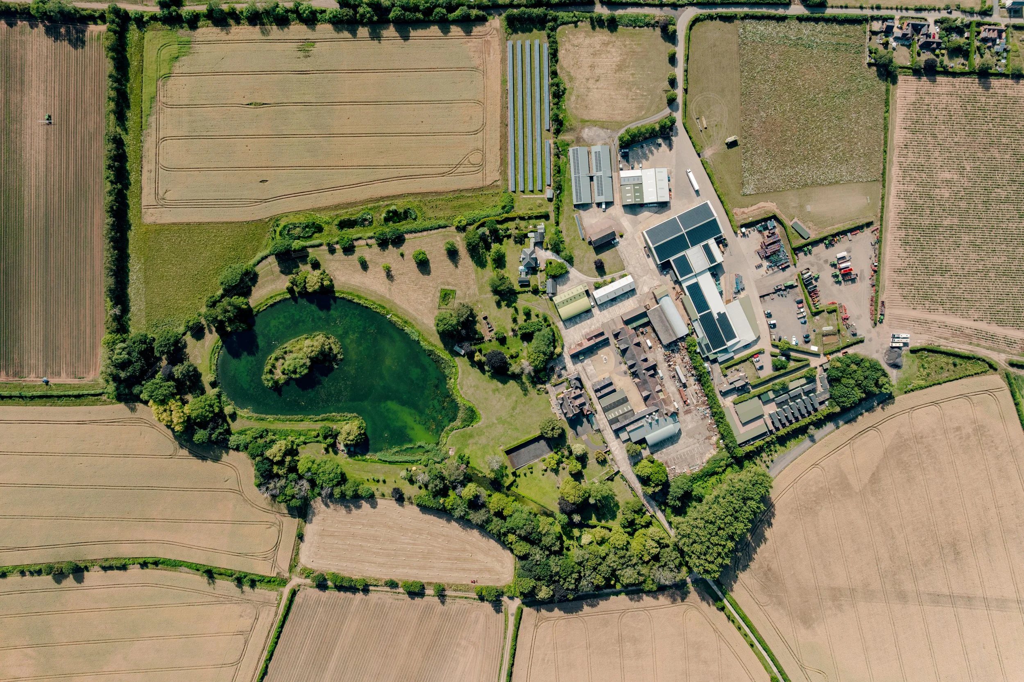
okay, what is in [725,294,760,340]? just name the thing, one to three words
shed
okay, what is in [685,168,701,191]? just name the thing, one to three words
vehicle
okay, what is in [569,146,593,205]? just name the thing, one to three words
barn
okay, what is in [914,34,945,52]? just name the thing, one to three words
house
